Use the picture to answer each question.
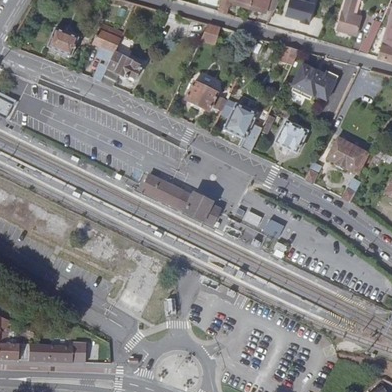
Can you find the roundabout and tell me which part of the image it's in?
bottom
